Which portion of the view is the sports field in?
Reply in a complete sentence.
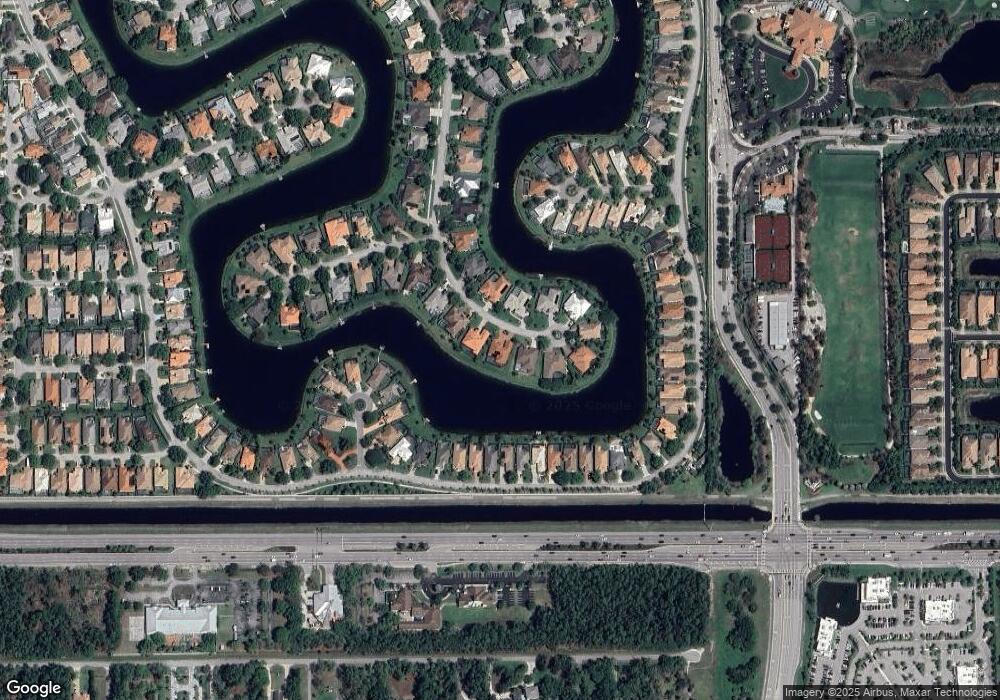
The sports field appears toward the right of the photo.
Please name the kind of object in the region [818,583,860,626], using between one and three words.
pond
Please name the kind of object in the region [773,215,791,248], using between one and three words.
tennis court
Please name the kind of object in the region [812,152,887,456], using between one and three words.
sports field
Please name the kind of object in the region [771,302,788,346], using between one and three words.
shed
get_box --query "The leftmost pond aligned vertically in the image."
[719,376,754,481]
